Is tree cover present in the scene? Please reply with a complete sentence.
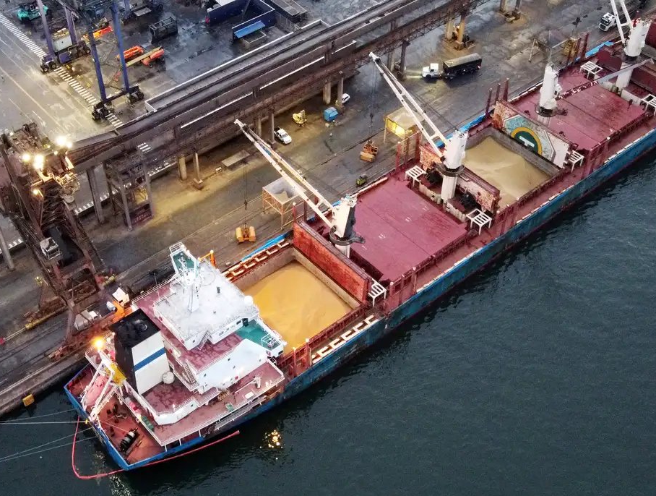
No, the picture contains no tree cover.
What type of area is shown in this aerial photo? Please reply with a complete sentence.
This looks like a port.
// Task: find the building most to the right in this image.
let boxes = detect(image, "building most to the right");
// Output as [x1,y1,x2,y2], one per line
[264,0,310,28]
